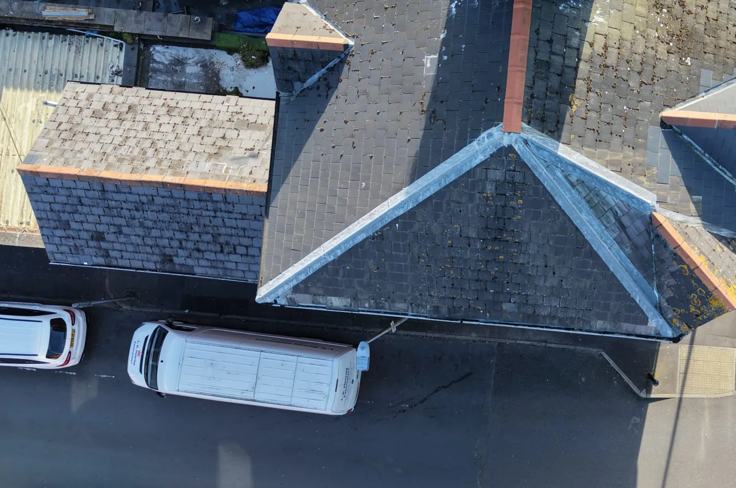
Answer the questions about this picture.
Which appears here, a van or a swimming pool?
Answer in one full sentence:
The one in the frame is a van.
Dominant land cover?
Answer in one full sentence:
Most of the picture is covered by buildings.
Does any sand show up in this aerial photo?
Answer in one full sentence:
No, there's no sand in this view.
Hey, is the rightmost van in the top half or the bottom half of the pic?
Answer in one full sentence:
The rightmost van is in the bottom half of the image.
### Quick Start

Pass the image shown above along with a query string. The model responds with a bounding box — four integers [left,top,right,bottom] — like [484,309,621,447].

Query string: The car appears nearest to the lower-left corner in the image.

[0,293,89,368]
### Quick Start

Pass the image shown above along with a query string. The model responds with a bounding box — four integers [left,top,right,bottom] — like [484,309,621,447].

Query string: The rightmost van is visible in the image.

[126,311,362,419]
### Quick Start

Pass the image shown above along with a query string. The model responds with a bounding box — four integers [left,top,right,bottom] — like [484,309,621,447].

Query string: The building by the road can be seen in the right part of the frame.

[254,0,736,346]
